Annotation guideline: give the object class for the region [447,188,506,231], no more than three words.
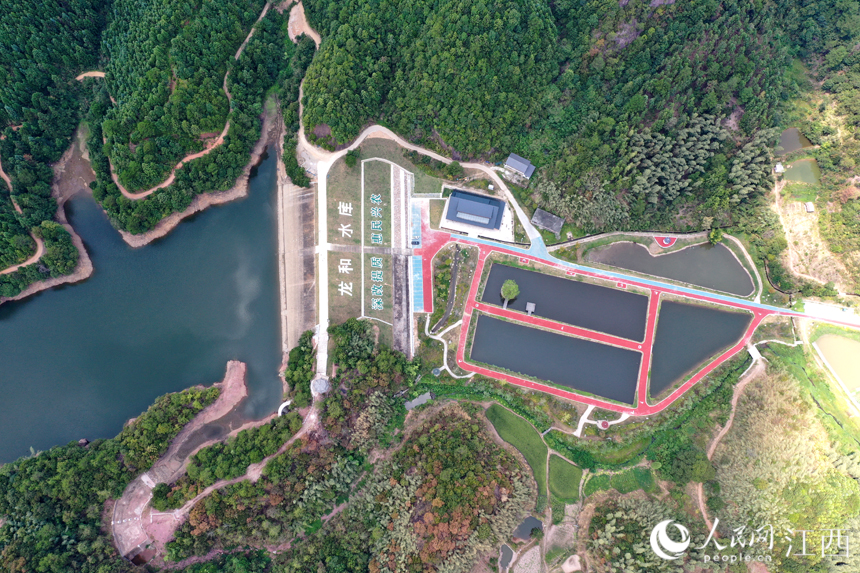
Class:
building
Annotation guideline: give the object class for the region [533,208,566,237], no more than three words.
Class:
building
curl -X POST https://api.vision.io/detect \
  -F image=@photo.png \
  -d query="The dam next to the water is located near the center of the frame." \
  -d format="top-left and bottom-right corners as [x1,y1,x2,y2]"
[278,150,414,385]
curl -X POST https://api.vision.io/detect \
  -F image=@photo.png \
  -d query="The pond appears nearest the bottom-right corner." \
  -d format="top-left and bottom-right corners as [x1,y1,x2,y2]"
[810,334,860,413]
